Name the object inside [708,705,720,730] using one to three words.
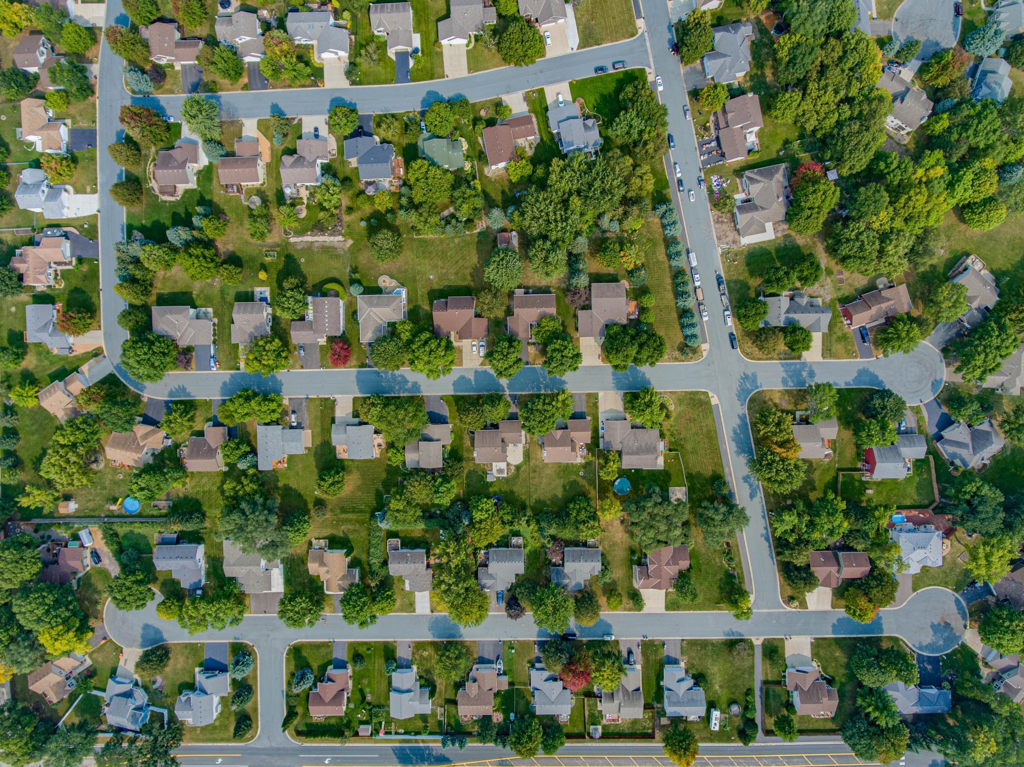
vehicle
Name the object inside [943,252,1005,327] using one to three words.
house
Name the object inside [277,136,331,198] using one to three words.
house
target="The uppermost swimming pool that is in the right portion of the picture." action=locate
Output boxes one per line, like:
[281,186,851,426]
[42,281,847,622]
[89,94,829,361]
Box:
[613,477,631,495]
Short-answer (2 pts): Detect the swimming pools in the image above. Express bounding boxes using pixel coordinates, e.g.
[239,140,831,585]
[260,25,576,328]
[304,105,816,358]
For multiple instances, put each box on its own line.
[123,495,142,514]
[891,513,907,523]
[613,477,631,495]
